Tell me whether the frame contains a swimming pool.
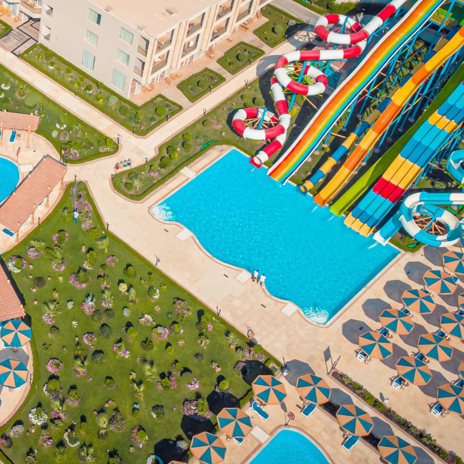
Yes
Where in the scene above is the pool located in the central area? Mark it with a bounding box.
[148,148,405,327]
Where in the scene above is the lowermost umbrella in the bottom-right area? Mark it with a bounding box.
[376,434,418,464]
